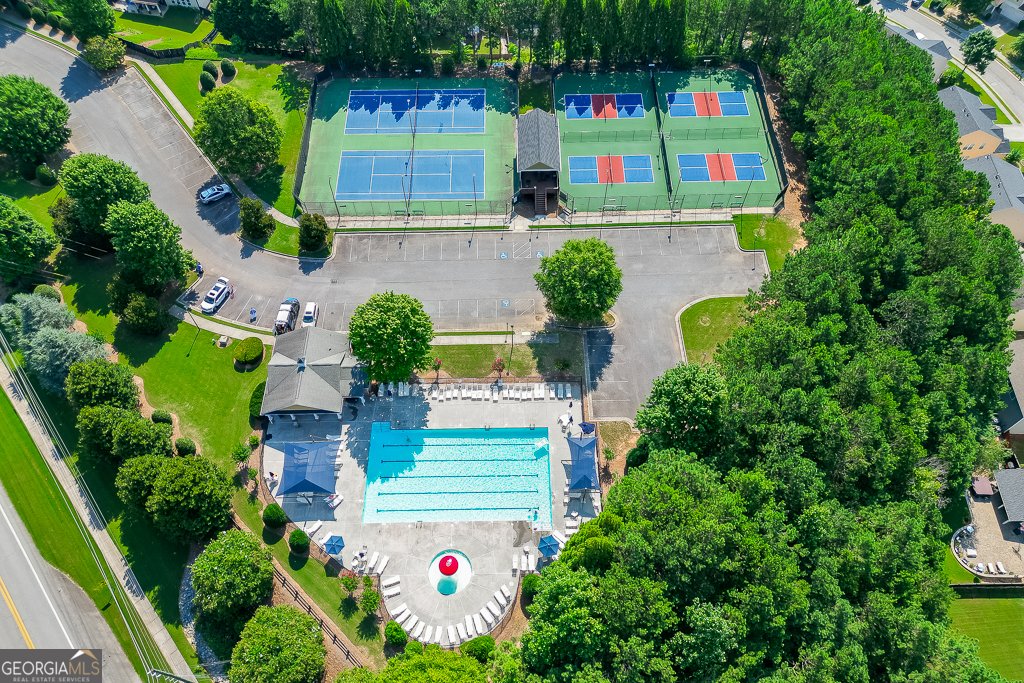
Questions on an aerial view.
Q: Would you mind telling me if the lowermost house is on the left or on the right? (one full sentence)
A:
It is on the right.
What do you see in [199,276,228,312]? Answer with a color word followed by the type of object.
white car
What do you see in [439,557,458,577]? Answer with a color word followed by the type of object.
red fountain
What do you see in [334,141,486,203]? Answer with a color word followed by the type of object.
blue tennis court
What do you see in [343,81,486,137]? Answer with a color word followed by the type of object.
blue tennis court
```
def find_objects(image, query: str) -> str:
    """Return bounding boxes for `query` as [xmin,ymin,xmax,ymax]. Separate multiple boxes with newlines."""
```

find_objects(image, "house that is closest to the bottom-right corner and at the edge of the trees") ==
[985,464,1024,528]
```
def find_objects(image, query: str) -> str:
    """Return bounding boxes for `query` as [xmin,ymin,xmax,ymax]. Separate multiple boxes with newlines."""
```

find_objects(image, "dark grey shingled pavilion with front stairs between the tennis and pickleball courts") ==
[515,103,562,214]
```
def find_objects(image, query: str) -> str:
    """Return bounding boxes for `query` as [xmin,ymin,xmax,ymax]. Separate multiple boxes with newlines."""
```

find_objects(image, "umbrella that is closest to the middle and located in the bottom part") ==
[578,417,594,434]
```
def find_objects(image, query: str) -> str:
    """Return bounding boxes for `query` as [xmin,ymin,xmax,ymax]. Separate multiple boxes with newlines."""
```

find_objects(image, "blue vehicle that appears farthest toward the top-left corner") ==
[197,184,229,202]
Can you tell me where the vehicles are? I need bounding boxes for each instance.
[911,0,924,5]
[270,298,301,333]
[199,276,228,312]
[197,184,229,202]
[299,300,319,326]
